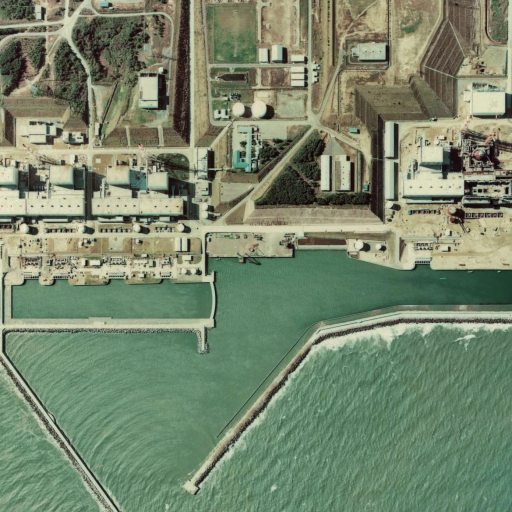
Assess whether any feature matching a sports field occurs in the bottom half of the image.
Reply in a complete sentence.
No, I see no sports field in the bottom half of the image.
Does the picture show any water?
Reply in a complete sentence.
Yes, water shows up in the scene.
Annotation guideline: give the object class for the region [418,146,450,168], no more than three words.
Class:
building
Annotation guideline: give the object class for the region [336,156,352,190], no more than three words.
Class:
building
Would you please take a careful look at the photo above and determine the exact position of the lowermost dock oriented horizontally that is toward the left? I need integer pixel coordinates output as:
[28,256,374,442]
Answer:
[2,316,214,354]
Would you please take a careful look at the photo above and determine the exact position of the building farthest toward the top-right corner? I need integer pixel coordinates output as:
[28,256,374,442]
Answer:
[463,84,505,118]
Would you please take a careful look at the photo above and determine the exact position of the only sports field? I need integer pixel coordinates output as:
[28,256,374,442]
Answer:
[214,6,256,62]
